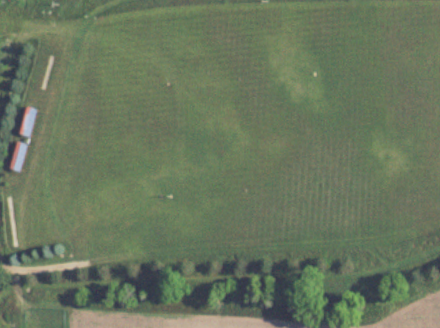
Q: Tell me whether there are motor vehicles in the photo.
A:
No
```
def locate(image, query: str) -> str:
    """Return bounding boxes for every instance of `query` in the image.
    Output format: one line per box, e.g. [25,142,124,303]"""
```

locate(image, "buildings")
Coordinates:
[20,108,36,136]
[10,142,26,171]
